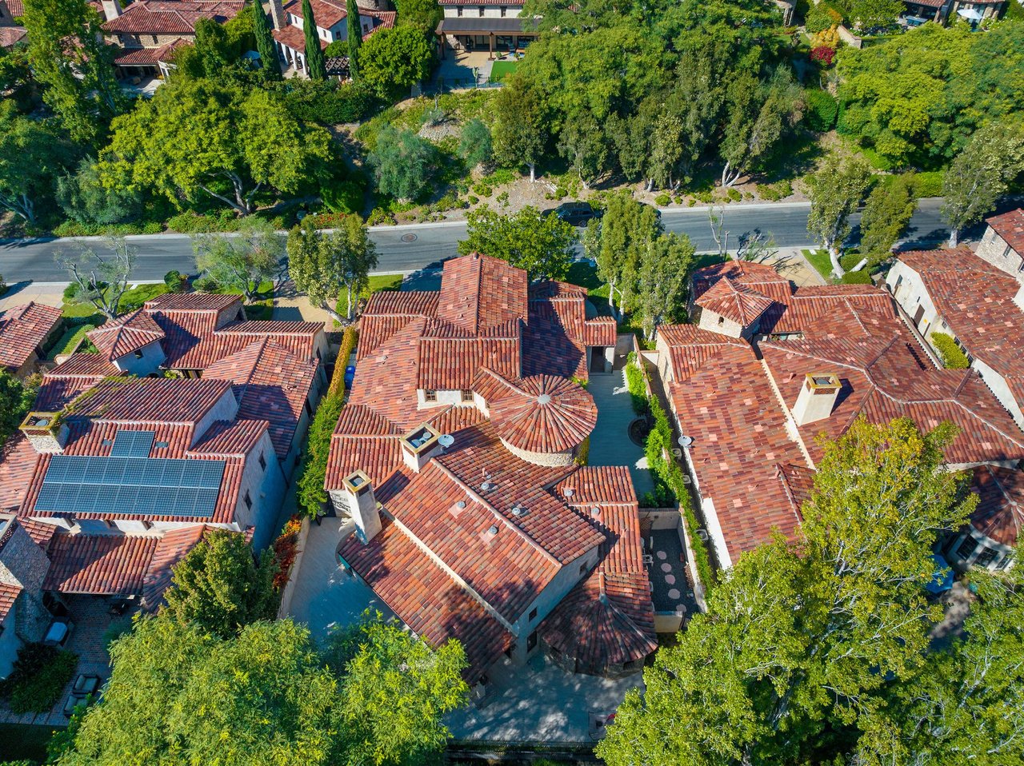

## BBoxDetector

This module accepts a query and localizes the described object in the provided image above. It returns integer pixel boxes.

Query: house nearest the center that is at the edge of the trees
[324,252,661,703]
